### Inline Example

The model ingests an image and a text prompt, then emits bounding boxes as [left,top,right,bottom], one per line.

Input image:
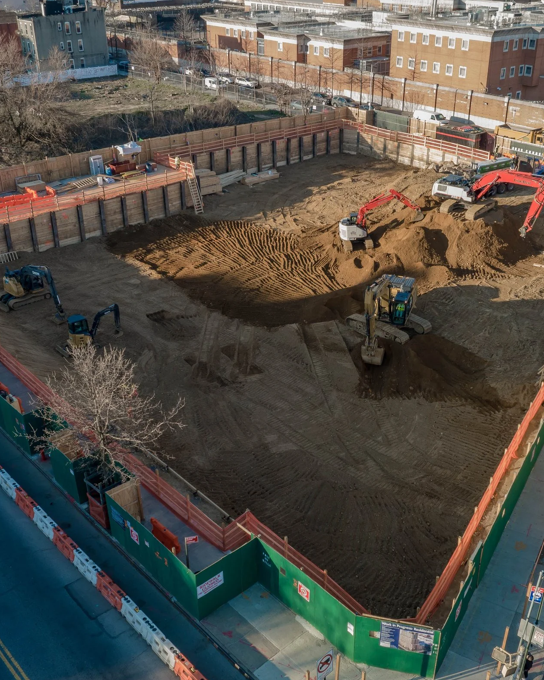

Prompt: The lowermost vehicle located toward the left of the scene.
[48,305,125,362]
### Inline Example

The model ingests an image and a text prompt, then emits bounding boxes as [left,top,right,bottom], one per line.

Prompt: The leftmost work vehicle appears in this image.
[0,263,67,325]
